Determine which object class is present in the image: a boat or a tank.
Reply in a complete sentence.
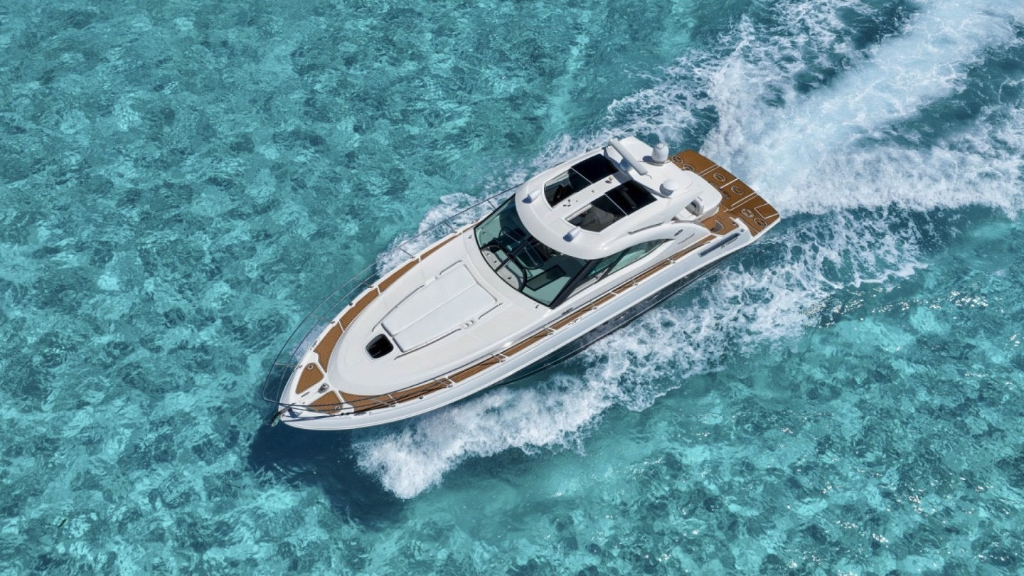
Of the two, only a boat appears.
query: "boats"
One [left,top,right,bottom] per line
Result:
[257,130,780,438]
